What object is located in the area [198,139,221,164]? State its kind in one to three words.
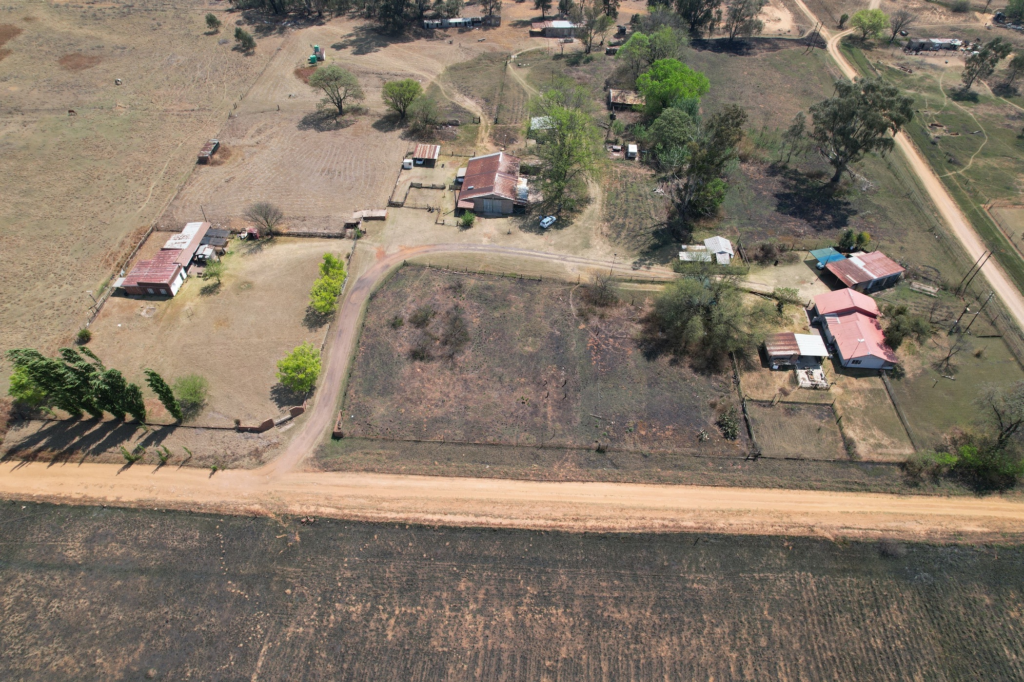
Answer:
shed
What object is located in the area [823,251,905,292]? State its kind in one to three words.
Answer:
building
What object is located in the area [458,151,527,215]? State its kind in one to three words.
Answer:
barn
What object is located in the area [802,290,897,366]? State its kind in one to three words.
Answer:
house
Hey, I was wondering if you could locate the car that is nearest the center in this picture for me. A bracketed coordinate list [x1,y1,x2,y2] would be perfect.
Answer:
[539,216,557,229]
